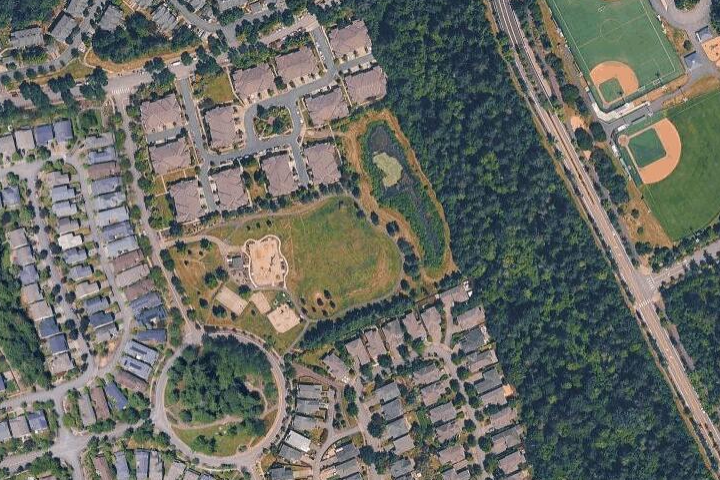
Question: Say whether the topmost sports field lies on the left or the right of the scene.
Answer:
right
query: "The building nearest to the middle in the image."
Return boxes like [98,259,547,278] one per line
[307,145,340,183]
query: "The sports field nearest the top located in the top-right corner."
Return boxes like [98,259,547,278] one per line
[546,0,684,112]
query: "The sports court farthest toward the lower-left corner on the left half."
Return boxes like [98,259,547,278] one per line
[216,286,247,315]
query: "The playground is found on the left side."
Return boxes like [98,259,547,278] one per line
[244,234,287,289]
